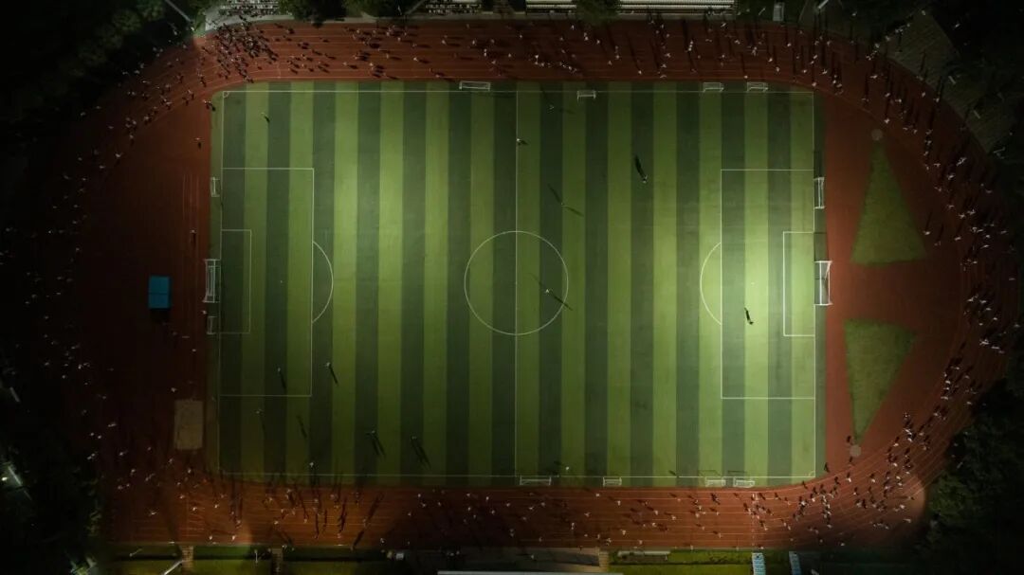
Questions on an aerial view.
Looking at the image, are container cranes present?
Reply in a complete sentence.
No, no container crane can be seen from above.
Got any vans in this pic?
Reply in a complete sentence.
No, no van is visible in the scene.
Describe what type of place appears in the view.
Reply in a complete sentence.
It's a sports ground.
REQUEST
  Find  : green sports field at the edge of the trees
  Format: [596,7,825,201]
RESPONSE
[203,80,828,489]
